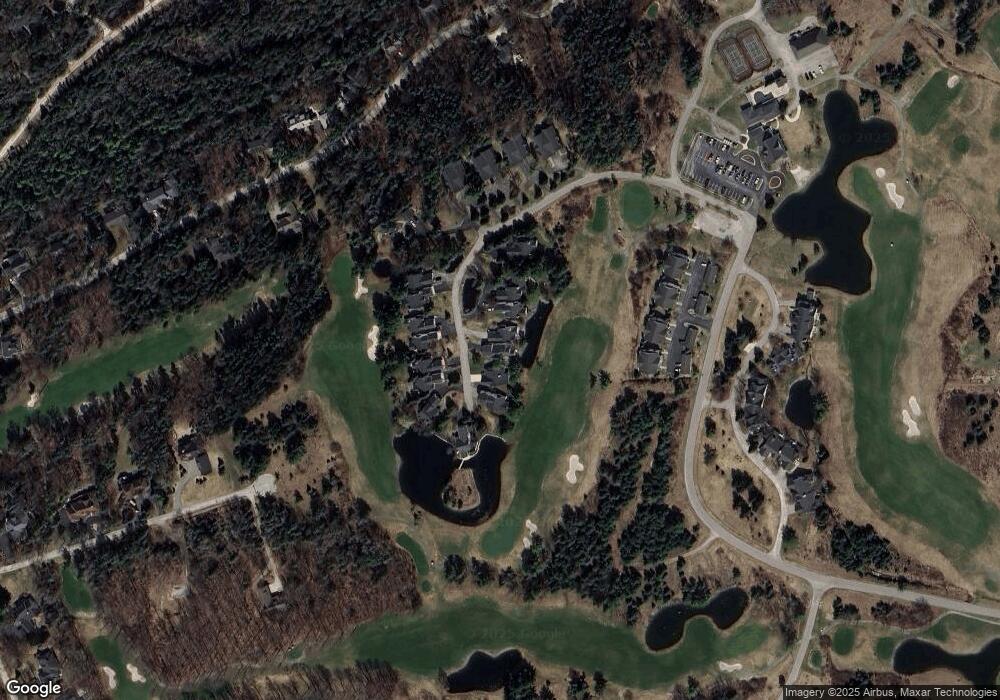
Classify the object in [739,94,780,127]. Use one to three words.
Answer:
building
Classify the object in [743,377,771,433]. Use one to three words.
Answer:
house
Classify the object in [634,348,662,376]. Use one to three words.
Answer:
house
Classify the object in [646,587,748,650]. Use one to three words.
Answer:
pond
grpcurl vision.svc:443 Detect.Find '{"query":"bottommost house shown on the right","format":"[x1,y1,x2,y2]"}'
[785,473,817,512]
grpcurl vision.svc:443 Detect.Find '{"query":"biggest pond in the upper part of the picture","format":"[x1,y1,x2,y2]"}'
[773,90,896,294]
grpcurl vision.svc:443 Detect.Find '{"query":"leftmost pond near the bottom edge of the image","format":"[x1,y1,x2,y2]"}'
[446,650,529,692]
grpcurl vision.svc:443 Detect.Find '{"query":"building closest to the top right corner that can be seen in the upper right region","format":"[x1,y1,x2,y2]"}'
[787,27,829,62]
